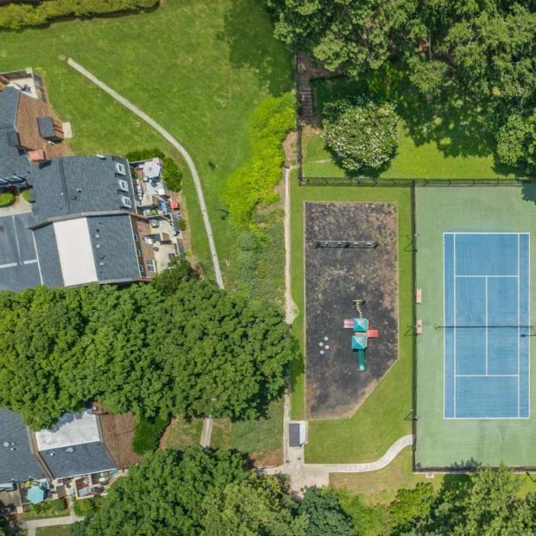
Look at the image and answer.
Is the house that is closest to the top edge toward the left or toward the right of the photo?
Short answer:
left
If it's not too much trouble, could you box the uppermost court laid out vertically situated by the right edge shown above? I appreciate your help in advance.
[417,186,536,465]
